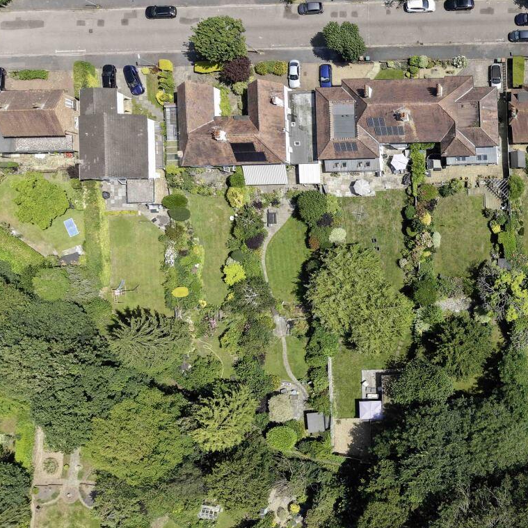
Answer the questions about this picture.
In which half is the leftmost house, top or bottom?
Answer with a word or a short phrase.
top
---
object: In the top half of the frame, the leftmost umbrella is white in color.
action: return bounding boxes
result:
[353,179,370,197]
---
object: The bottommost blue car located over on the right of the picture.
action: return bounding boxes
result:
[318,63,332,87]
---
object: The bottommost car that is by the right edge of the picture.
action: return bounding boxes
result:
[489,63,503,90]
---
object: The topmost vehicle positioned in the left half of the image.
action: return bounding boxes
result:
[147,2,178,20]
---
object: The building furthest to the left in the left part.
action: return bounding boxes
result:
[0,89,79,155]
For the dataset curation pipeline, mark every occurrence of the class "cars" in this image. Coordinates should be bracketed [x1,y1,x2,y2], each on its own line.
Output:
[318,63,332,87]
[404,0,436,13]
[104,63,117,88]
[124,64,146,96]
[515,10,528,26]
[489,63,503,90]
[299,0,325,15]
[508,27,528,42]
[147,2,178,20]
[287,60,301,88]
[444,0,475,12]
